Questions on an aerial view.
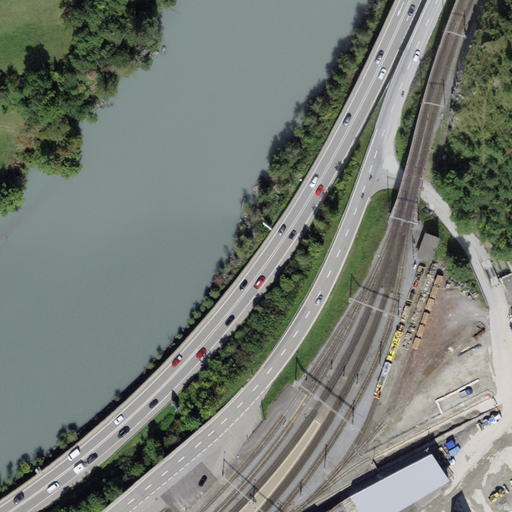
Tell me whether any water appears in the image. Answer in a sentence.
Yes, the picture does contain water.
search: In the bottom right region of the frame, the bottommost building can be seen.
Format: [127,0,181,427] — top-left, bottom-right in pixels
[350,456,446,512]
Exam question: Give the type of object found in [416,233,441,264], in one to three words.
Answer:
shed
